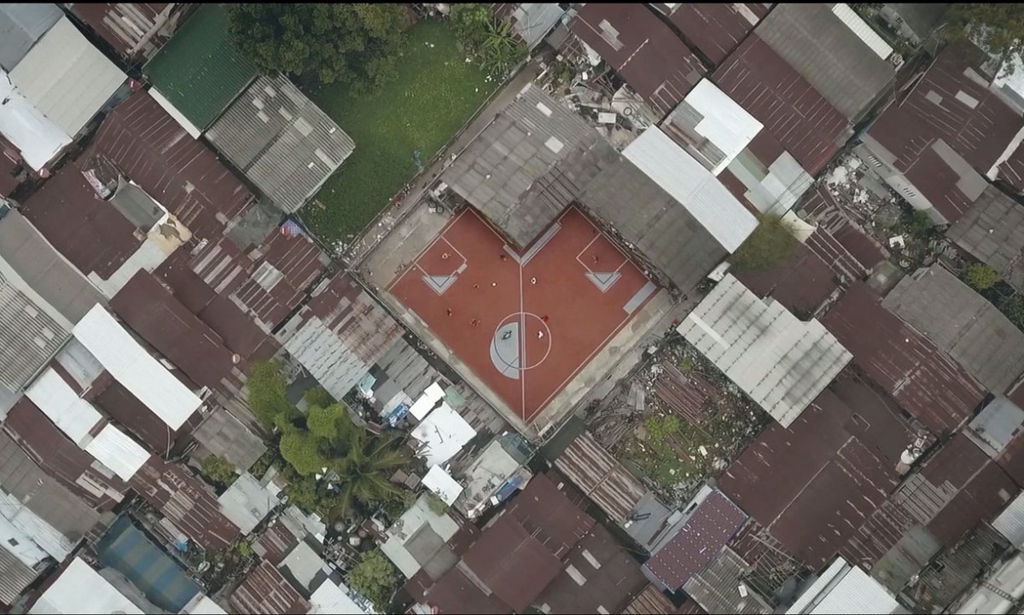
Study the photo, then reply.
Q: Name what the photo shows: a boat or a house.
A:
house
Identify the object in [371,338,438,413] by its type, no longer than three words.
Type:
house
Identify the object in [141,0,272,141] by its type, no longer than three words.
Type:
house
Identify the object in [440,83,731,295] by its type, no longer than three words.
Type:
building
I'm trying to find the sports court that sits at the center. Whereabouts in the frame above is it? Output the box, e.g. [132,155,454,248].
[385,201,670,427]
